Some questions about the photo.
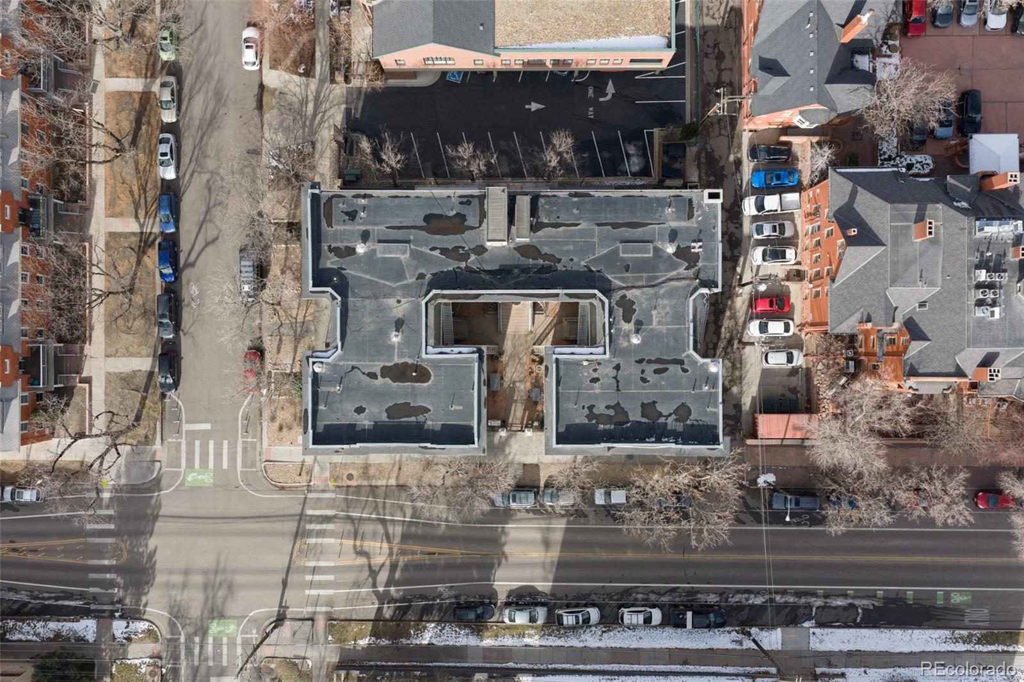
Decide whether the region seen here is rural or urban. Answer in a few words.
urban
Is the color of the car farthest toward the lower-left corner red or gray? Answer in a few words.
gray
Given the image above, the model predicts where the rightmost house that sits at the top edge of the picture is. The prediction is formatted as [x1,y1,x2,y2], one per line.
[741,0,916,141]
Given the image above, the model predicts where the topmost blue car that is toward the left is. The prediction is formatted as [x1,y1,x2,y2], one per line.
[157,194,179,234]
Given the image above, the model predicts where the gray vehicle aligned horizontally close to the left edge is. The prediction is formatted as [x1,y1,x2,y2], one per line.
[3,484,47,506]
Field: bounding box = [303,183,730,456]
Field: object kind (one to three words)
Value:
building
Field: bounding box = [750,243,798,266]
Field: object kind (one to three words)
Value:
car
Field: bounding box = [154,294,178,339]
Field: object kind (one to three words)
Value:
car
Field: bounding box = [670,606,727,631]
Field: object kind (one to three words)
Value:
truck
